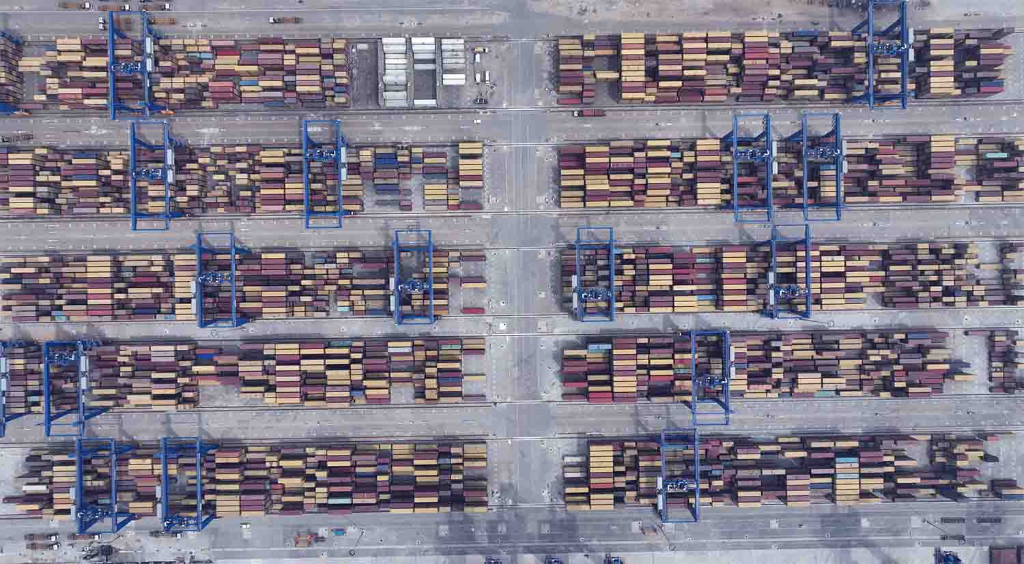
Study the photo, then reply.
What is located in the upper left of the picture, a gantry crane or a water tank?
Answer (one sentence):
You can see a gantry crane in the upper left of the picture.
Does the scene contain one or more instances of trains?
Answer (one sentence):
No, no train is visible in the scene.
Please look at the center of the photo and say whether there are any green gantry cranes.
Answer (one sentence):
No, I can find no green gantry crane at the center of the photo.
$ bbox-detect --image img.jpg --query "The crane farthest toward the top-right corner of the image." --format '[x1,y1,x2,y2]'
[848,0,914,110]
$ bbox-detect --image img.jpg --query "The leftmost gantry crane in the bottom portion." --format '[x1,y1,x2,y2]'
[0,339,35,436]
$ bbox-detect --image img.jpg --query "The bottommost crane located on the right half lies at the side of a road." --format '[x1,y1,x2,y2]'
[650,429,701,522]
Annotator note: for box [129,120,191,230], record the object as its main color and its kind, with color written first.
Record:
blue container crane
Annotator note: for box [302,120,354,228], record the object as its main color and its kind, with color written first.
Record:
blue container crane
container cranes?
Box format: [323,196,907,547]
[190,231,253,328]
[129,120,191,230]
[570,227,616,322]
[848,0,914,110]
[785,112,848,220]
[107,11,173,120]
[155,436,220,534]
[650,429,701,522]
[0,339,35,436]
[302,120,354,228]
[70,436,140,533]
[42,338,109,437]
[719,113,778,221]
[755,224,813,319]
[388,229,440,325]
[679,330,736,426]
